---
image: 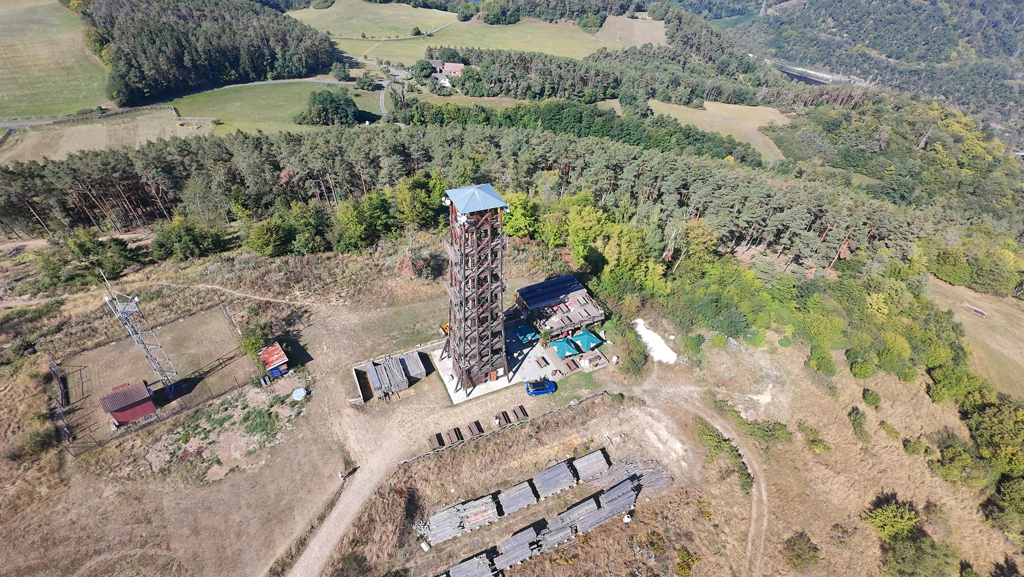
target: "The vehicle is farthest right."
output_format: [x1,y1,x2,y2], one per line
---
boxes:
[524,375,555,397]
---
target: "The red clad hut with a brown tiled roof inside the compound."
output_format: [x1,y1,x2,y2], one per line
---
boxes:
[100,381,156,434]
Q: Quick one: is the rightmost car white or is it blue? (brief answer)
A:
blue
